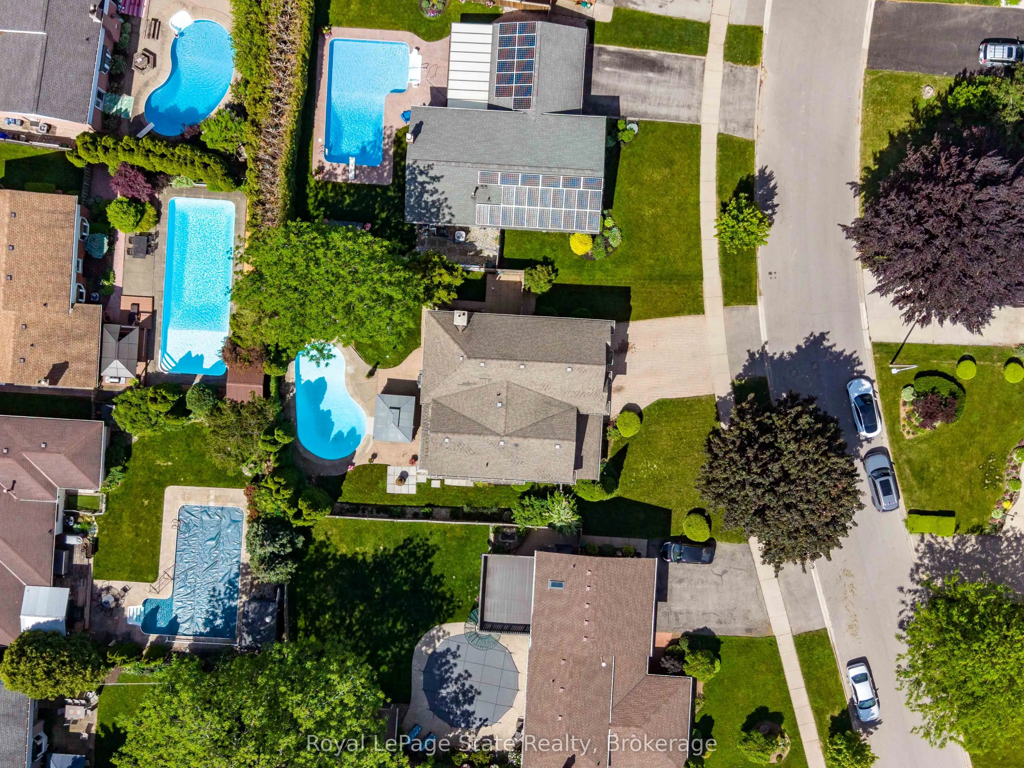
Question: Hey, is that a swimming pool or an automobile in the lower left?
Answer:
swimming pool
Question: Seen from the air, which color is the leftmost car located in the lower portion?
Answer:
black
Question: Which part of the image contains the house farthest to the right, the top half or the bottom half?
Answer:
bottom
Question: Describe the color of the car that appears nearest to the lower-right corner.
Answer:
white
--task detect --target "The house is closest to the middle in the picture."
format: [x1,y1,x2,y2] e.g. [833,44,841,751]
[417,309,616,485]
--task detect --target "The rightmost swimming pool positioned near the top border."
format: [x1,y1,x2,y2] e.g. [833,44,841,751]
[318,38,422,167]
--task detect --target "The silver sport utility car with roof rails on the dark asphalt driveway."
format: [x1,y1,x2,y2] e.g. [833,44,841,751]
[977,38,1024,67]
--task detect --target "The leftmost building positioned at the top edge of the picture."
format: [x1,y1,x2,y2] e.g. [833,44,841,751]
[0,0,120,129]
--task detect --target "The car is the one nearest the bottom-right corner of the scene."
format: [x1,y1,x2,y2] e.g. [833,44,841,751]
[844,659,880,721]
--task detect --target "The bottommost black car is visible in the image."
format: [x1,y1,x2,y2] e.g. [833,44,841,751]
[660,539,715,567]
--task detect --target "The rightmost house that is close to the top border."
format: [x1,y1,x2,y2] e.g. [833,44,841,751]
[404,21,607,235]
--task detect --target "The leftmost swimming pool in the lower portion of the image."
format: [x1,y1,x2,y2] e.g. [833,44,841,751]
[127,505,244,640]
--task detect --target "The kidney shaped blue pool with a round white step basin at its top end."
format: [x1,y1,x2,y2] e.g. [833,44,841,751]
[144,10,235,136]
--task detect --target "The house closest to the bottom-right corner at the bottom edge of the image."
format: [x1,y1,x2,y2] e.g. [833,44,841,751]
[522,547,693,768]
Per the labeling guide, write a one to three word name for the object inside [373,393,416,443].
gazebo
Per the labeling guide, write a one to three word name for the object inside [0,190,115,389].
house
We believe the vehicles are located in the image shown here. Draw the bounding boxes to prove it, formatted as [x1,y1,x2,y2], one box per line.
[844,659,880,721]
[977,38,1024,67]
[863,451,898,512]
[660,539,715,567]
[845,377,882,439]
